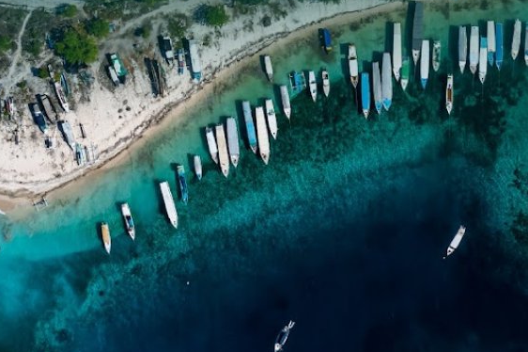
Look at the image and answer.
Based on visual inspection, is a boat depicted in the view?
Yes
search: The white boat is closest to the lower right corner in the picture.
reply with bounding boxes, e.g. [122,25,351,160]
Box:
[448,226,465,256]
